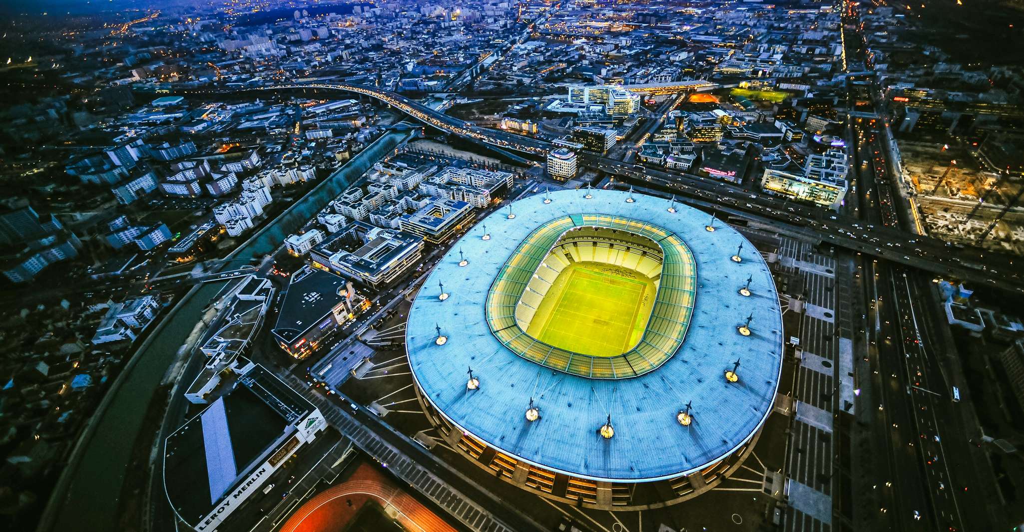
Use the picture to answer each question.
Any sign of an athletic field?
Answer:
Yes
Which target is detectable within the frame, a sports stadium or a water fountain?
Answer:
sports stadium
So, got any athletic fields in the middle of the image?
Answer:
Yes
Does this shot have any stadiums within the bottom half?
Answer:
Yes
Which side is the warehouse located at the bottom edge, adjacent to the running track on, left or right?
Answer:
left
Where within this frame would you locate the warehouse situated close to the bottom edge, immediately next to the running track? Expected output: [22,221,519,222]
[162,364,323,532]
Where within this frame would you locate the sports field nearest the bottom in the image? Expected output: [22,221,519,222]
[538,271,644,359]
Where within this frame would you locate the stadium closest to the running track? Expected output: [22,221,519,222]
[404,183,786,514]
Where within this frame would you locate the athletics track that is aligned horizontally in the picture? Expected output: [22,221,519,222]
[273,474,461,532]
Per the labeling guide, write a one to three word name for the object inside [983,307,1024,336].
building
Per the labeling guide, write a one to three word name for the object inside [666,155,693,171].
building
